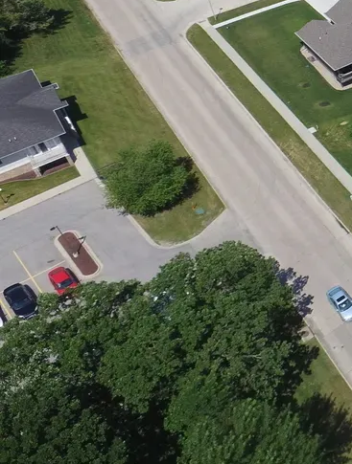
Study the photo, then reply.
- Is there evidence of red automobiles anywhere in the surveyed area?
Yes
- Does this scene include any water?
No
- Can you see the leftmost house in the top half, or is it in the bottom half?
top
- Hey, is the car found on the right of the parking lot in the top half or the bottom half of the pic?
bottom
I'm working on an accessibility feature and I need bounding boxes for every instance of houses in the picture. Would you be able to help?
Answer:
[294,0,352,95]
[0,69,75,185]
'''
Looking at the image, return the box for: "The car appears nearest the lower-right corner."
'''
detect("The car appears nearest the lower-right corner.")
[323,284,352,325]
